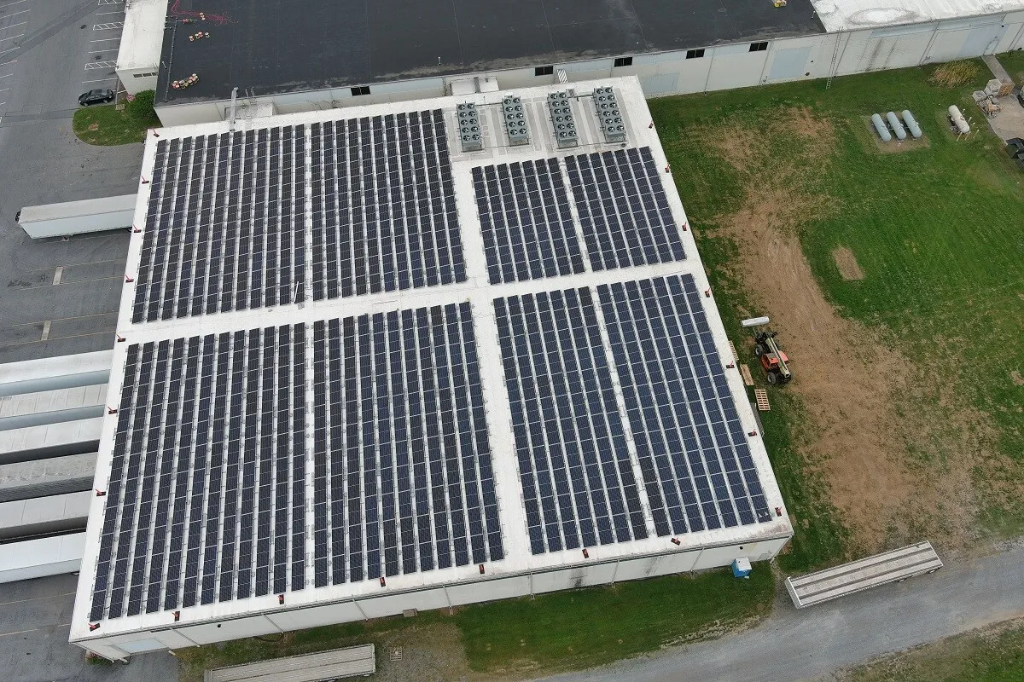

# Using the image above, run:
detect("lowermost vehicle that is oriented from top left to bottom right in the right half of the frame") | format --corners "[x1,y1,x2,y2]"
[749,328,798,385]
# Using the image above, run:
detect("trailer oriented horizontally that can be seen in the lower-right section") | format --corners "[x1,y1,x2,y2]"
[785,541,945,611]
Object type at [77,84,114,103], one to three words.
car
